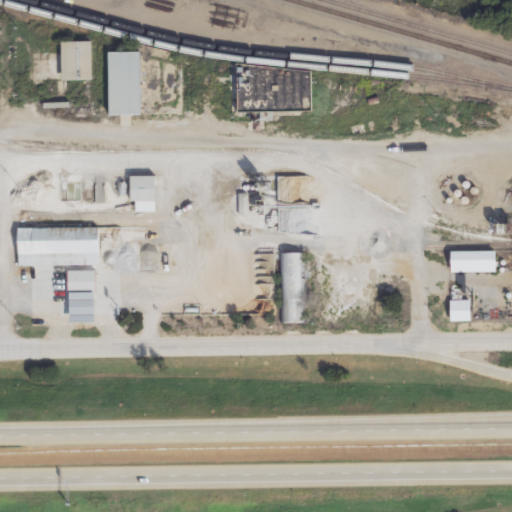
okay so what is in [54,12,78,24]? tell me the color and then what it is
white rail car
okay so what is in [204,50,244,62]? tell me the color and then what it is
white rail car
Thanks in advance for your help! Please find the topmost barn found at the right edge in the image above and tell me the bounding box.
[451,250,496,273]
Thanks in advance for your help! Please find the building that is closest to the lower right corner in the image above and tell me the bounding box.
[450,300,472,322]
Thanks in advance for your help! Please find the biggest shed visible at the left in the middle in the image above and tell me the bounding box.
[16,226,98,266]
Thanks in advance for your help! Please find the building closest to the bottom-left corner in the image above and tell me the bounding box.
[68,292,94,322]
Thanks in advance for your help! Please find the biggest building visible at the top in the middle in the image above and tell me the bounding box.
[231,66,312,120]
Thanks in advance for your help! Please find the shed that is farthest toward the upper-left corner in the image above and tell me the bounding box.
[60,40,92,80]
